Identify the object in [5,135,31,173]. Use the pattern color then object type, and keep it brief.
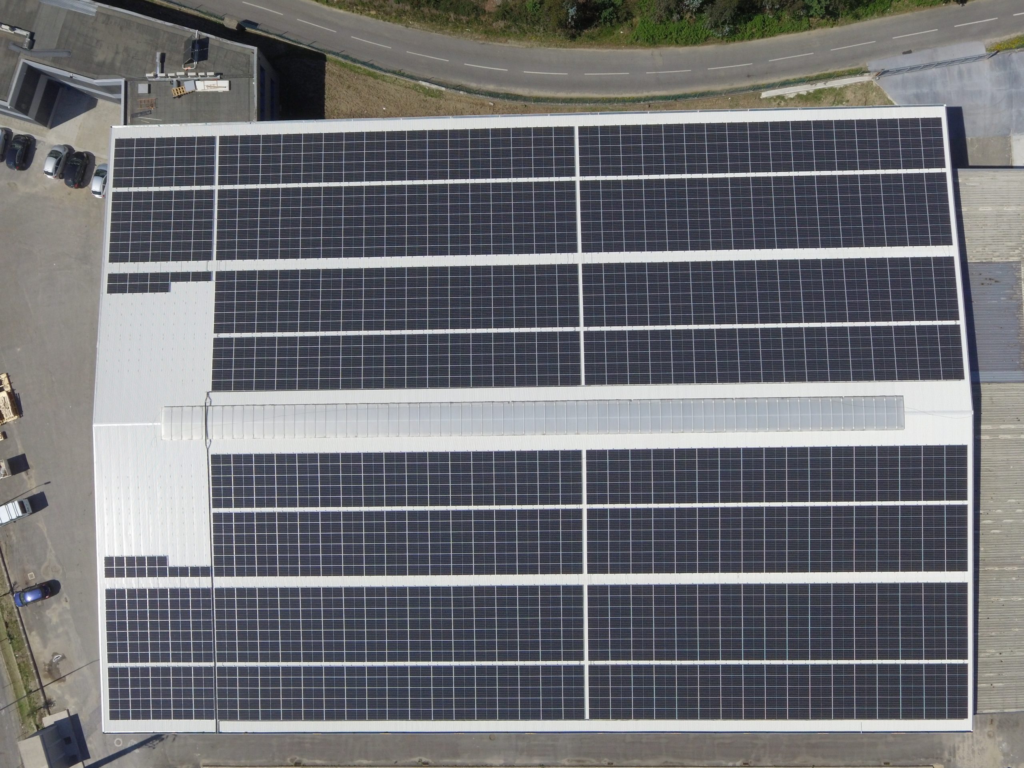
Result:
black car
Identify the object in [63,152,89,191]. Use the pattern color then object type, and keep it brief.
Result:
black car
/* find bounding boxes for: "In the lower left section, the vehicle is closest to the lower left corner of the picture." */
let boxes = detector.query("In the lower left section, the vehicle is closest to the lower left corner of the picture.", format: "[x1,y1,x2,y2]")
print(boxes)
[13,581,55,605]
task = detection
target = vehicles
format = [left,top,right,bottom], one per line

[43,145,71,181]
[63,152,89,191]
[13,581,55,605]
[0,128,12,165]
[5,135,31,173]
[89,163,107,200]
[0,500,33,527]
